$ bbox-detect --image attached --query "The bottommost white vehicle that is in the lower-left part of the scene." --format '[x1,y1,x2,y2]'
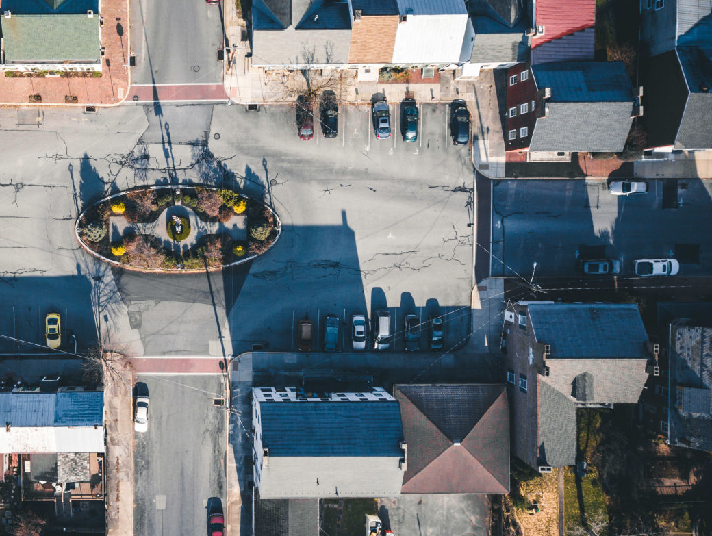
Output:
[131,394,151,431]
